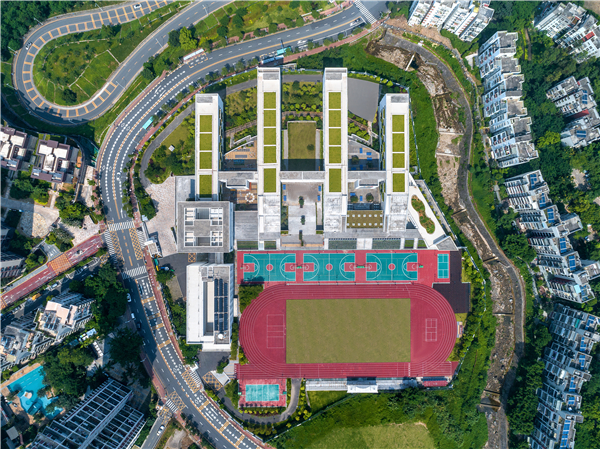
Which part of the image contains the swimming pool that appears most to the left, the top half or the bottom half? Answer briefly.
bottom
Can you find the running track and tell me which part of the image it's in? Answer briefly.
bottom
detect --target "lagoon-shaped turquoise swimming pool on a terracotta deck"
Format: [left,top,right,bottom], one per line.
[9,366,62,417]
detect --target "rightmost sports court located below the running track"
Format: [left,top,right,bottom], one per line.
[237,378,287,407]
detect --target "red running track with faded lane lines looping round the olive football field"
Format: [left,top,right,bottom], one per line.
[237,284,459,378]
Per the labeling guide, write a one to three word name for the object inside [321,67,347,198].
building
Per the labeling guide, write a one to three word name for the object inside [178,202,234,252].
building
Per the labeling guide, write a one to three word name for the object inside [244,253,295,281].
basketball court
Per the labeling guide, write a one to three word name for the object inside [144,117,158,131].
vehicle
